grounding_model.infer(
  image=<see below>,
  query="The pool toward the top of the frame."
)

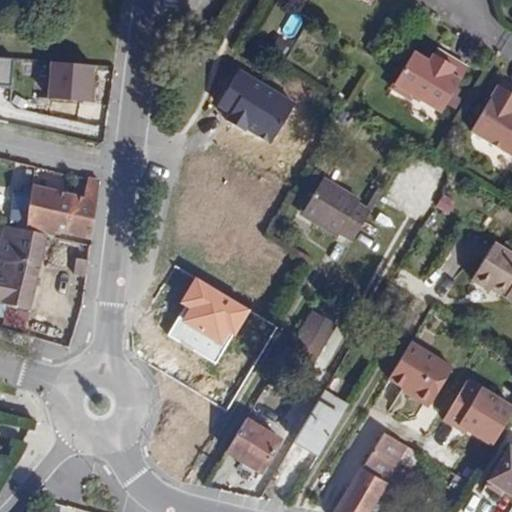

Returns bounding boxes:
[280,14,300,38]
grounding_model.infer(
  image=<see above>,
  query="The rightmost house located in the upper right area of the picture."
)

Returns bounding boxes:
[472,84,512,155]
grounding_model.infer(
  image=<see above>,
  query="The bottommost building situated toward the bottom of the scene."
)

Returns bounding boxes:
[332,466,386,512]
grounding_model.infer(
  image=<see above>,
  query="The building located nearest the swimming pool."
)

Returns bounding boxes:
[216,70,294,140]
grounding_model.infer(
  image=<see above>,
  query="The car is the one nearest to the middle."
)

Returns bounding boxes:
[328,240,344,258]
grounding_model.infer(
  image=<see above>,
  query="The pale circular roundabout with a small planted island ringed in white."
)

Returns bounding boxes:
[48,351,152,454]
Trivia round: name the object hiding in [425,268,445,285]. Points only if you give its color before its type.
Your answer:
white car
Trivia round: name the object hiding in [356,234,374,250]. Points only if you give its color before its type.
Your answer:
white camper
